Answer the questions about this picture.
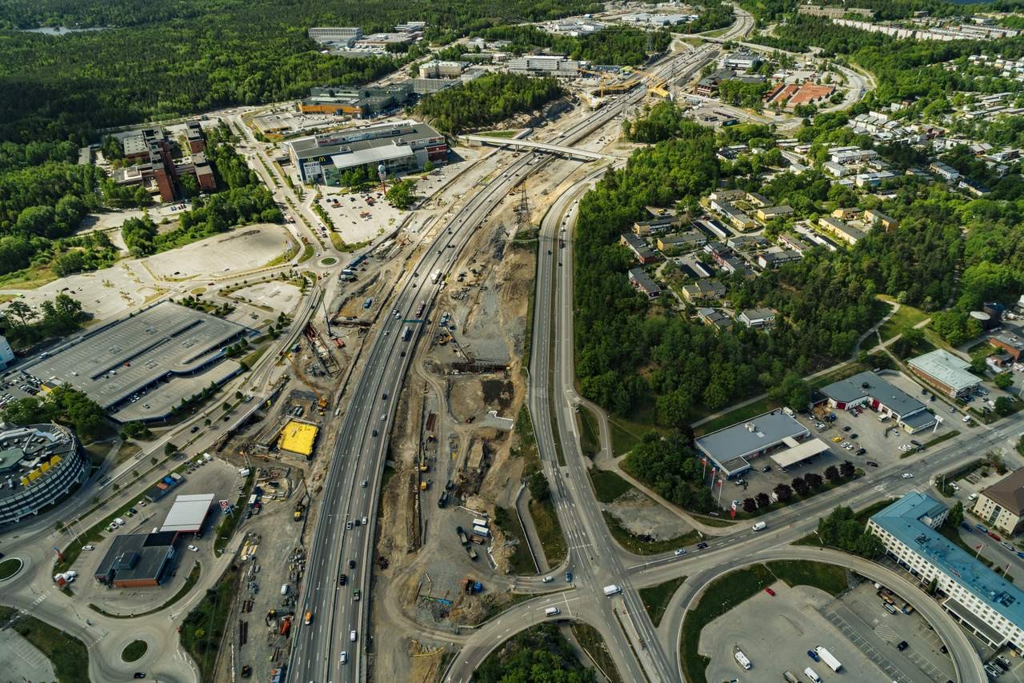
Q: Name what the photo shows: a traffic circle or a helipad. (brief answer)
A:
traffic circle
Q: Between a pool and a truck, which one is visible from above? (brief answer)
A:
truck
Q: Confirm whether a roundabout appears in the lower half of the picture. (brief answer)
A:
Yes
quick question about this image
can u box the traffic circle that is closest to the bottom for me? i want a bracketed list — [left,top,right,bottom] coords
[88,610,182,683]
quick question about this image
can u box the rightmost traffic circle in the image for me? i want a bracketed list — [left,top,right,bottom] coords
[301,250,355,272]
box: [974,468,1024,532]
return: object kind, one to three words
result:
building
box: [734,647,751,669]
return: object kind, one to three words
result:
camper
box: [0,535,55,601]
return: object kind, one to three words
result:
roundabout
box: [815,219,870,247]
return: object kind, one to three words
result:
house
